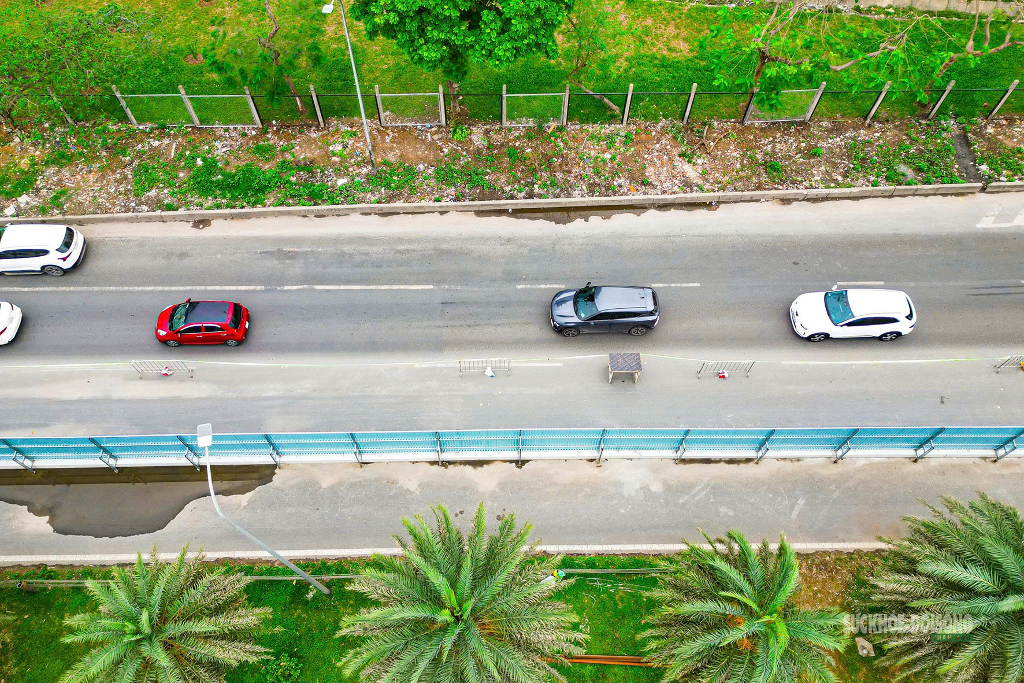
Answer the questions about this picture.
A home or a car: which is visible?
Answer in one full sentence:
There is a car in the scene.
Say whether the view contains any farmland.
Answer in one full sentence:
No, farmland can't be seen anywhere here.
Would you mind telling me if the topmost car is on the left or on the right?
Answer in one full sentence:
The topmost car appears in the left half of the scene.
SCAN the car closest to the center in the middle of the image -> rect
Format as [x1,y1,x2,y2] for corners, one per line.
[549,282,661,336]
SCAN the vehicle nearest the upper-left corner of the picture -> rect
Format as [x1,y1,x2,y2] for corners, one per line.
[0,222,83,275]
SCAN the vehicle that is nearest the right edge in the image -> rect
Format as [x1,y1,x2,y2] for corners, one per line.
[790,284,918,341]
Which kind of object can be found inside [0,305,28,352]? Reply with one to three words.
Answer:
car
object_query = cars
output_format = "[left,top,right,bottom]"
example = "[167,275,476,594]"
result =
[549,282,661,336]
[153,298,250,346]
[0,305,28,352]
[0,222,83,275]
[790,284,918,341]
